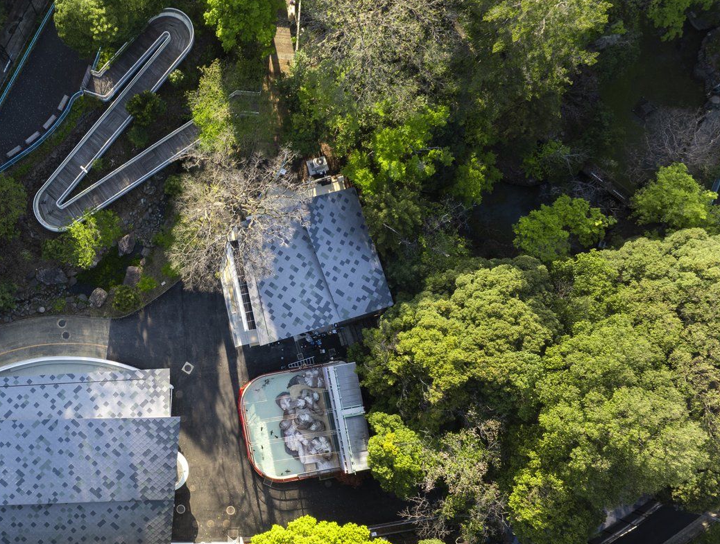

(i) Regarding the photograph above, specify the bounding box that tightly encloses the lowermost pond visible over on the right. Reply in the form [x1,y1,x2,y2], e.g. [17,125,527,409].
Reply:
[463,178,557,269]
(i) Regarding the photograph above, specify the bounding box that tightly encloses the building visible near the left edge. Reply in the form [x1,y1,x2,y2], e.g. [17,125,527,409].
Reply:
[0,368,181,544]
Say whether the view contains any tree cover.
Yes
